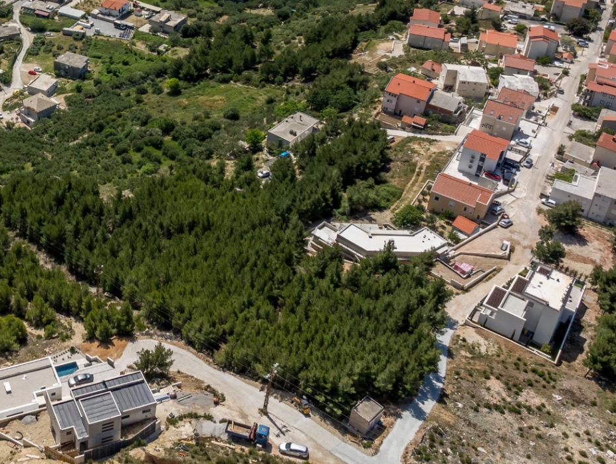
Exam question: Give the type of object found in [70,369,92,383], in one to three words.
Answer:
car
